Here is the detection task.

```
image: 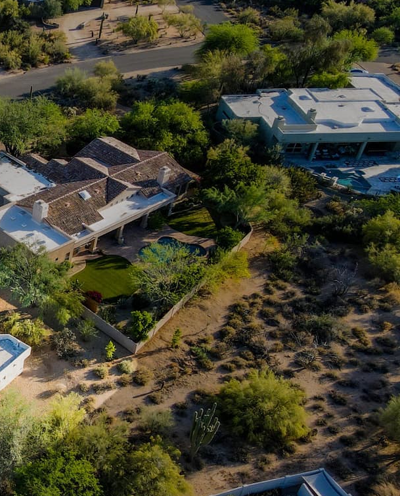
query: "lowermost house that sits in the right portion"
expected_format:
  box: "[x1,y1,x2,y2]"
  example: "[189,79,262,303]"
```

[213,74,400,164]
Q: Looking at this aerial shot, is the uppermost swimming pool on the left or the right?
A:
right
